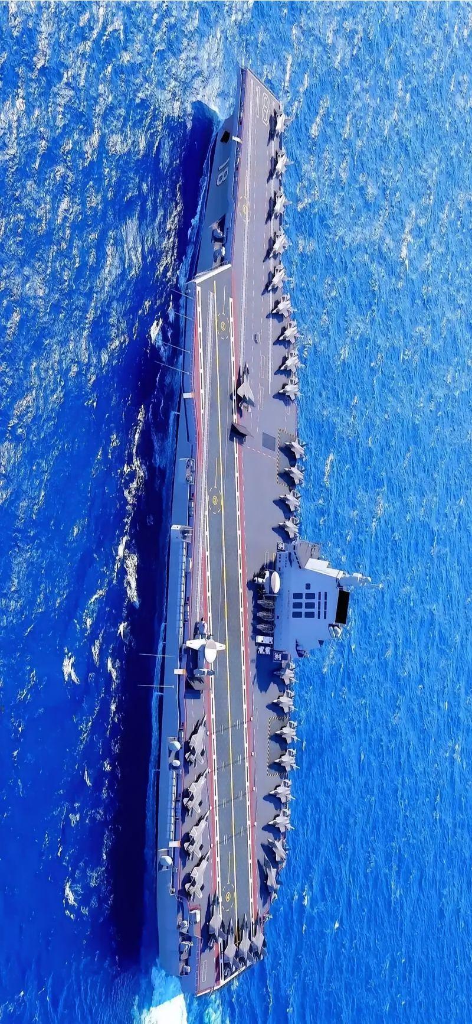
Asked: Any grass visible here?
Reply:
No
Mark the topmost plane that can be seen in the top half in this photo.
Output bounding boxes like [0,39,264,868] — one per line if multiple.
[273,109,296,139]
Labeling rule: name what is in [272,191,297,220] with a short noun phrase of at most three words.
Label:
airplane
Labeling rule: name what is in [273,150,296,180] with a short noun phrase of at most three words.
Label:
airplane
